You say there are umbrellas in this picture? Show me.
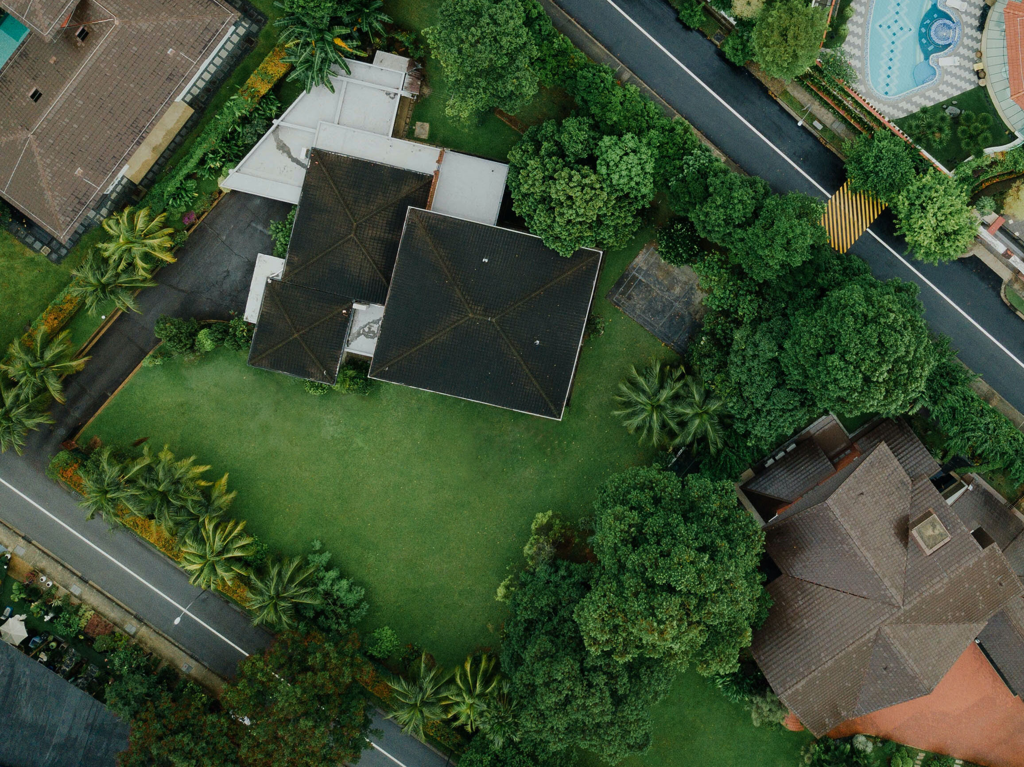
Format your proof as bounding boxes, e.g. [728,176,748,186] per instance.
[2,614,32,644]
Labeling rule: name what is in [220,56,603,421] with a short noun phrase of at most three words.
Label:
house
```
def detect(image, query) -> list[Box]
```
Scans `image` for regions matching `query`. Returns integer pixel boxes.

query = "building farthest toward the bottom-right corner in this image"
[737,413,1024,739]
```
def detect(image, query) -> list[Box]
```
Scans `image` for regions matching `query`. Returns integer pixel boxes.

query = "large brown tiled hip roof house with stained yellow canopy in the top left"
[0,0,241,243]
